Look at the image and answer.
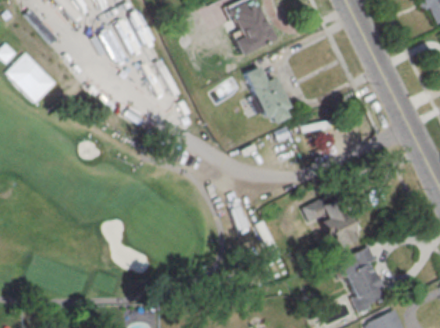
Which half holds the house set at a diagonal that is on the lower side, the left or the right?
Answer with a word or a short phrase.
right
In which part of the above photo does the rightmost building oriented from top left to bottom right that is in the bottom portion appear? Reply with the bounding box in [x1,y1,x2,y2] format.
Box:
[302,199,366,246]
